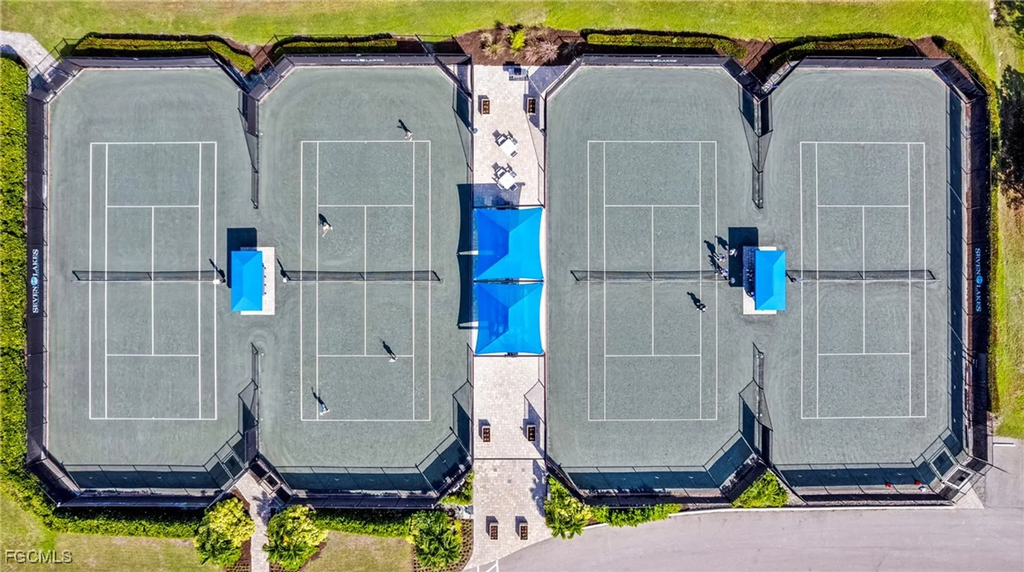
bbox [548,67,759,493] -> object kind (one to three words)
tennis court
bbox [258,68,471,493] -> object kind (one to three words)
tennis court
